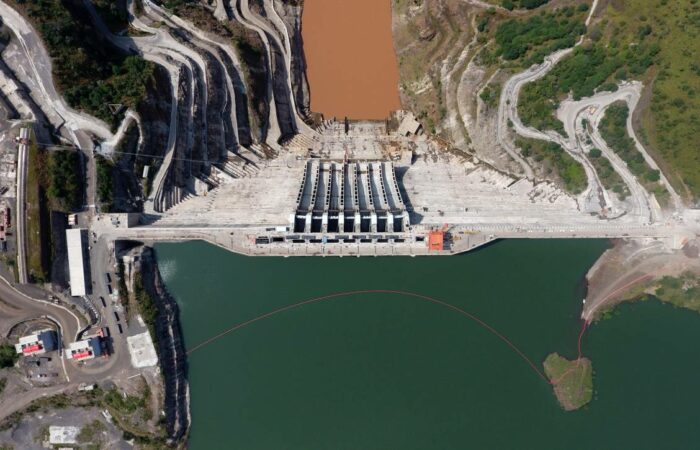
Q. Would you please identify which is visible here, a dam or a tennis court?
dam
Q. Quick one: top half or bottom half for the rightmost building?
top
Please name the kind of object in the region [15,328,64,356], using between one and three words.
building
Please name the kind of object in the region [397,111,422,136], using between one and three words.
building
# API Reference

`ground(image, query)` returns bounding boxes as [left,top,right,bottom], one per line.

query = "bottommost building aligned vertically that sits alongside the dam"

[66,229,90,296]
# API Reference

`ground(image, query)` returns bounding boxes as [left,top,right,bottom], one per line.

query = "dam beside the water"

[100,116,648,257]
